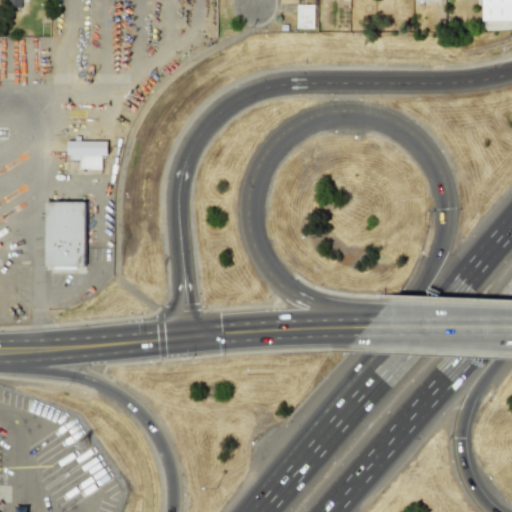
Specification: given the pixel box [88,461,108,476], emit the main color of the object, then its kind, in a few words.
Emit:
white vehicle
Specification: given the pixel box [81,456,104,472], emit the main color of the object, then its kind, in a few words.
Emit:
white vehicle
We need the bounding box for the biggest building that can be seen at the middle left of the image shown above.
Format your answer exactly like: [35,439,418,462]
[46,203,86,270]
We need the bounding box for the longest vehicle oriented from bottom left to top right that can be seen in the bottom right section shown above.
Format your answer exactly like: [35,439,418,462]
[449,376,465,394]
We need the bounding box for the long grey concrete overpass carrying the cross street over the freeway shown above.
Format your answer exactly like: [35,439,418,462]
[336,296,512,358]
